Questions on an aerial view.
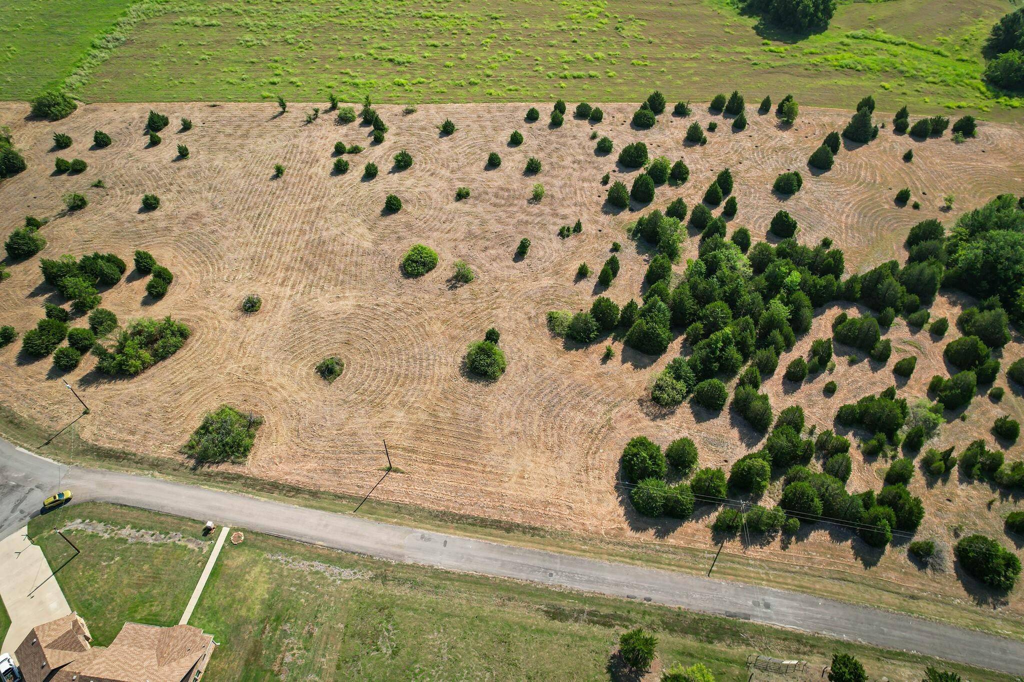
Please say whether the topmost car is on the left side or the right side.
left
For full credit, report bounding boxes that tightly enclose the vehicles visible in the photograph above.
[42,491,73,511]
[0,655,23,682]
